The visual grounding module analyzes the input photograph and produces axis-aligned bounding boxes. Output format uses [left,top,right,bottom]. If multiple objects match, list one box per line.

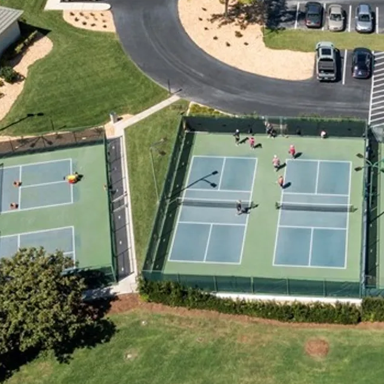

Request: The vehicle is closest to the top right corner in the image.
[355,0,375,29]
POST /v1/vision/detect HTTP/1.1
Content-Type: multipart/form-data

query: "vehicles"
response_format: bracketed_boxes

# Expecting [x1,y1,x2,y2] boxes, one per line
[352,47,373,77]
[355,0,375,29]
[327,1,347,29]
[316,42,338,79]
[305,0,323,27]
